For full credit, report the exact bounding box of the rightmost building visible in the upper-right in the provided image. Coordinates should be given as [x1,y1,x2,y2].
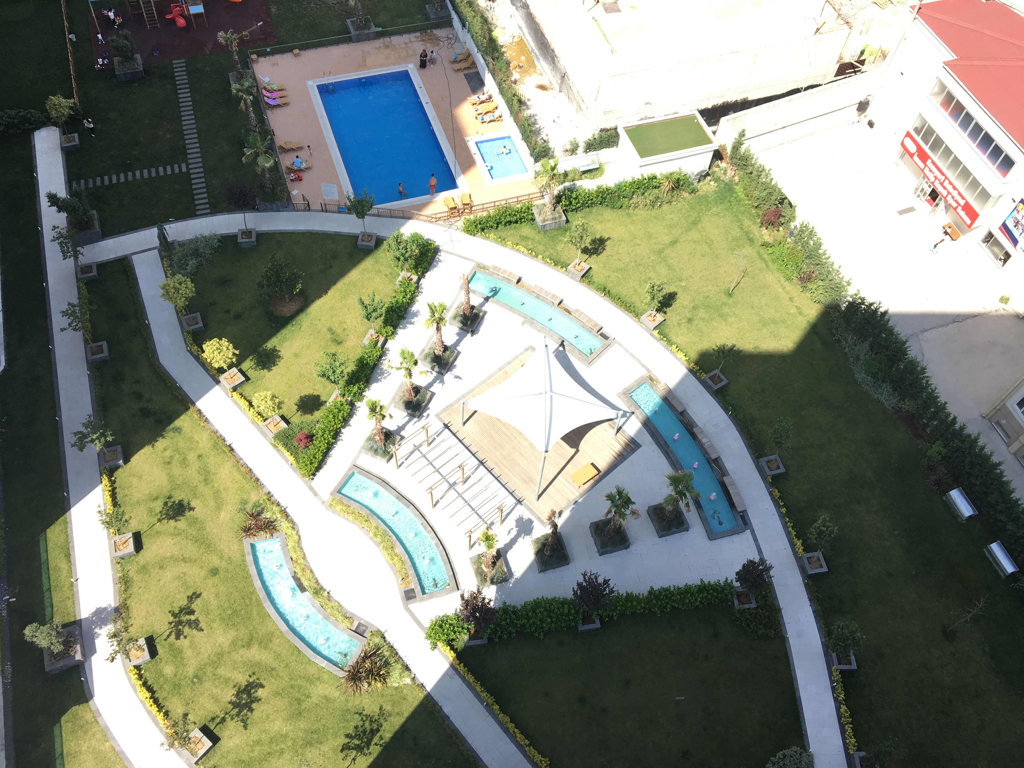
[867,0,1024,326]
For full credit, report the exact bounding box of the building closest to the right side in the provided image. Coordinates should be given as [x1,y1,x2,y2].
[981,376,1024,469]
